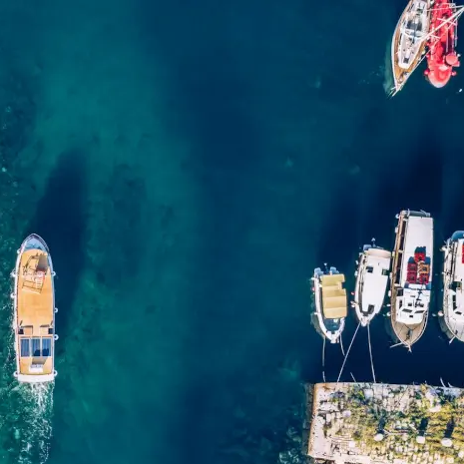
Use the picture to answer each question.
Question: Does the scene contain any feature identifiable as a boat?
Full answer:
Yes, the image includes a boat.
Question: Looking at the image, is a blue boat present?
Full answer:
No, there isn't any blue boat down there.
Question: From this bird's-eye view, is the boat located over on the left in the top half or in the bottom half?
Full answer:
The boat located over on the left sits in the bottom half of the picture.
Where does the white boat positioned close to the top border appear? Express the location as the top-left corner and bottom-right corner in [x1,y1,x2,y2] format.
[384,0,464,100]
